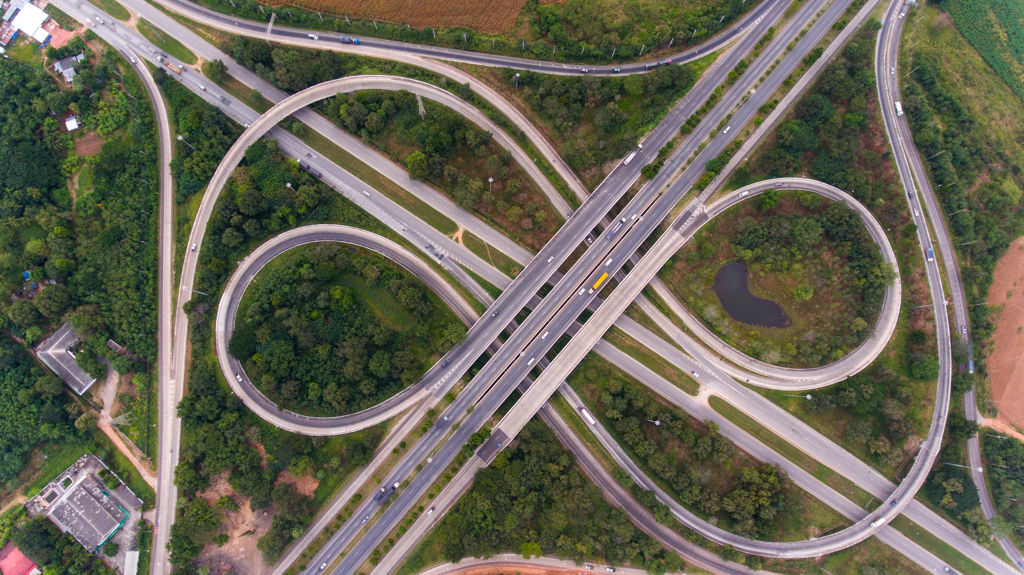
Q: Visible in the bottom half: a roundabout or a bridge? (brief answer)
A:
bridge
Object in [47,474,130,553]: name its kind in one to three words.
building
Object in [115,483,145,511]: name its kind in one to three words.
shed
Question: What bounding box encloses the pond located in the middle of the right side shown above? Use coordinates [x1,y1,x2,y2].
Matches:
[715,261,793,329]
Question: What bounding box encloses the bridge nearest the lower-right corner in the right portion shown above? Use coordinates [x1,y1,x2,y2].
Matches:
[822,448,937,553]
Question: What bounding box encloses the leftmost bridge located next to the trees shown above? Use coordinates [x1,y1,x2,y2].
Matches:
[235,74,368,152]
